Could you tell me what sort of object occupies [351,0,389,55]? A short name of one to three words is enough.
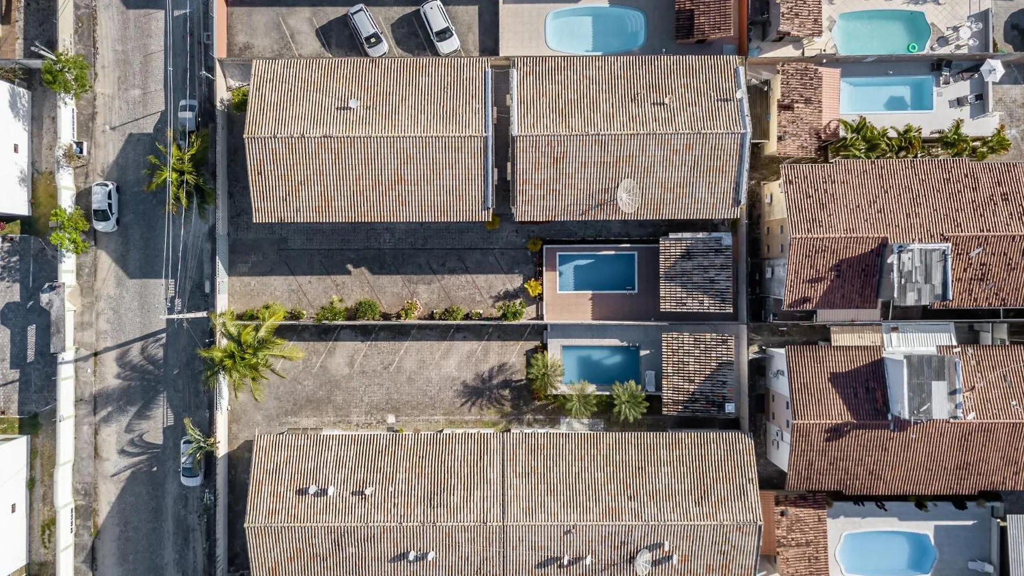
car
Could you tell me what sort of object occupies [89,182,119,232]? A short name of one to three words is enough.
car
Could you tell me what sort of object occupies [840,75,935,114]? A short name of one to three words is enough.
swimming pool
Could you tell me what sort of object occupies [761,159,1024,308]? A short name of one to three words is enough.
house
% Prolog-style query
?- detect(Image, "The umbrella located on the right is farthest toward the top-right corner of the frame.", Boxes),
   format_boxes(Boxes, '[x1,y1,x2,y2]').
[969,57,1004,84]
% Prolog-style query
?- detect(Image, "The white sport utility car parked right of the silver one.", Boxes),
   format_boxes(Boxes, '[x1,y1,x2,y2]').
[422,0,461,55]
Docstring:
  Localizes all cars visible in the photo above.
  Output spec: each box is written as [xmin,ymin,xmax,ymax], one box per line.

[179,435,210,485]
[177,101,206,155]
[89,182,119,232]
[351,0,389,55]
[422,0,461,55]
